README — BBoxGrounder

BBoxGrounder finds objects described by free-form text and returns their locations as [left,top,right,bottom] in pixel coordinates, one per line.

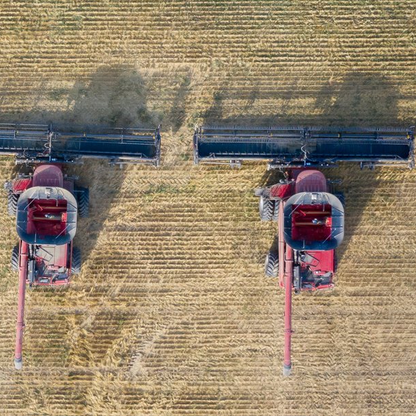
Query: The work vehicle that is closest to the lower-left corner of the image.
[0,118,162,368]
